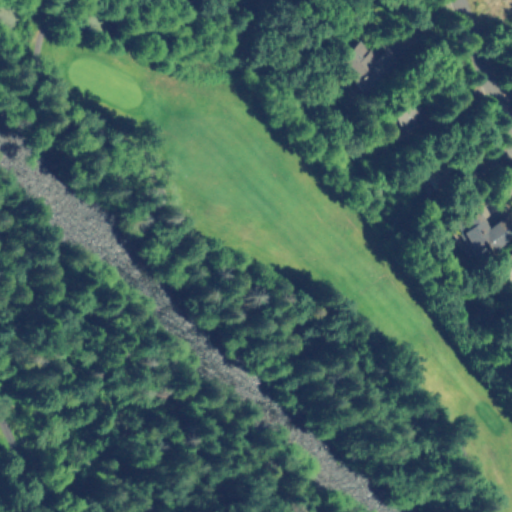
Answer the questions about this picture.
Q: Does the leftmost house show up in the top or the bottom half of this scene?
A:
top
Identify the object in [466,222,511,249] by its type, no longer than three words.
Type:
house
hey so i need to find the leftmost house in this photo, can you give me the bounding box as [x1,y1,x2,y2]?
[350,42,377,77]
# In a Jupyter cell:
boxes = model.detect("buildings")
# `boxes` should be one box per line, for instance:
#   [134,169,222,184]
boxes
[398,106,420,127]
[466,222,511,249]
[350,42,377,77]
